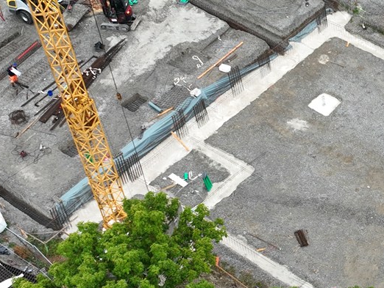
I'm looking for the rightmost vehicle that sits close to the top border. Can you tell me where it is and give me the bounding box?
[98,0,144,31]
